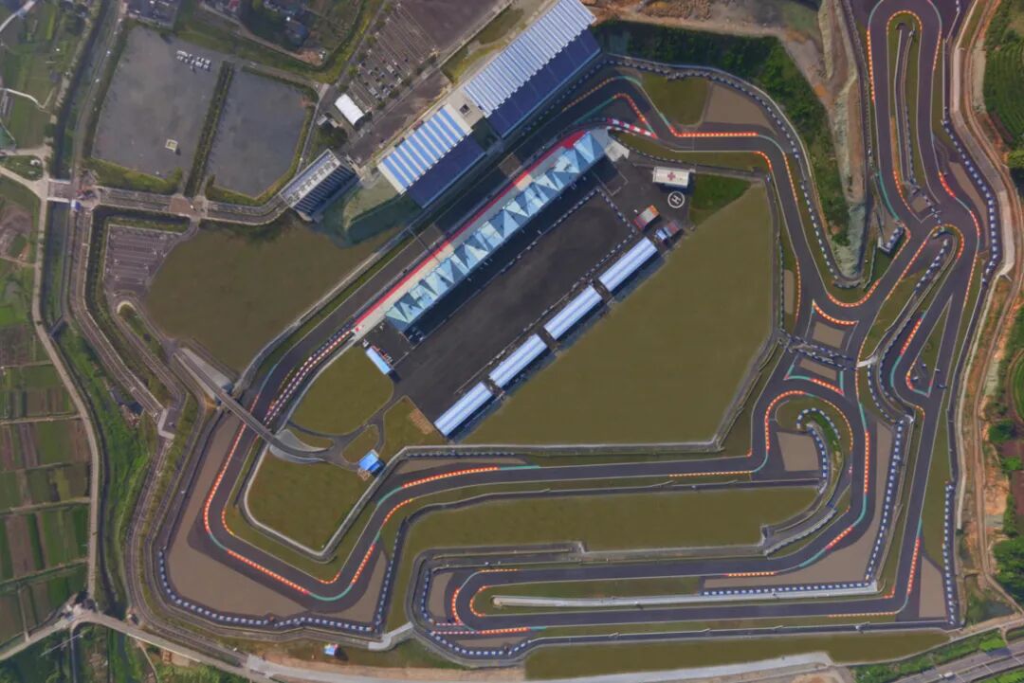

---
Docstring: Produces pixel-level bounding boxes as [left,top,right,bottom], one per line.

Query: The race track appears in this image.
[206,0,979,632]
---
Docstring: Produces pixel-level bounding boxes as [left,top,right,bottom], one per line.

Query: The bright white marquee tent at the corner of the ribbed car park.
[334,93,365,126]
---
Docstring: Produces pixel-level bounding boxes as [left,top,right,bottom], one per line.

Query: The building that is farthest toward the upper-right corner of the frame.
[652,166,697,189]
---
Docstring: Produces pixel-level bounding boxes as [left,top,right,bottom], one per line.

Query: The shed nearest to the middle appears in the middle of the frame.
[489,335,546,388]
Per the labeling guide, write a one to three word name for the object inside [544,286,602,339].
shed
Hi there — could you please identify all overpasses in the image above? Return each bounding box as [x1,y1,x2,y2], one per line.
[174,349,325,464]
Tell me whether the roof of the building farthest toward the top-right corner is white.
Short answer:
Yes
